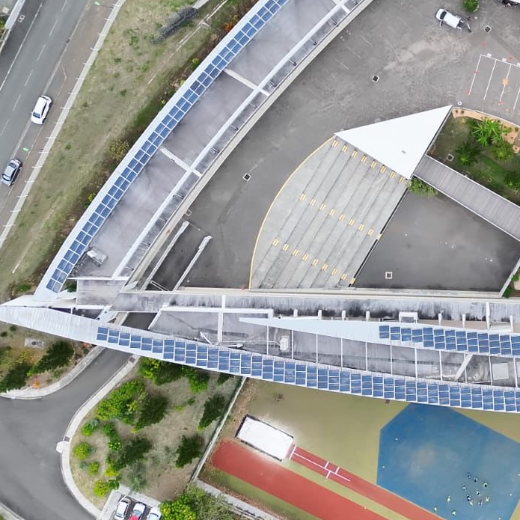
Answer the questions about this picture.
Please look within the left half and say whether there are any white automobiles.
Yes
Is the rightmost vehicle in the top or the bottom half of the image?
top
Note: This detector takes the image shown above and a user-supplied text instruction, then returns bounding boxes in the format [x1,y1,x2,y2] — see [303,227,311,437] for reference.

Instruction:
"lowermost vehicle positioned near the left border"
[1,159,23,186]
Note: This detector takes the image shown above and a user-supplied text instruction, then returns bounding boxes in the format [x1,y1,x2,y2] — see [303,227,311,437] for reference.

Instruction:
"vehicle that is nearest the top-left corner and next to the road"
[30,96,53,125]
